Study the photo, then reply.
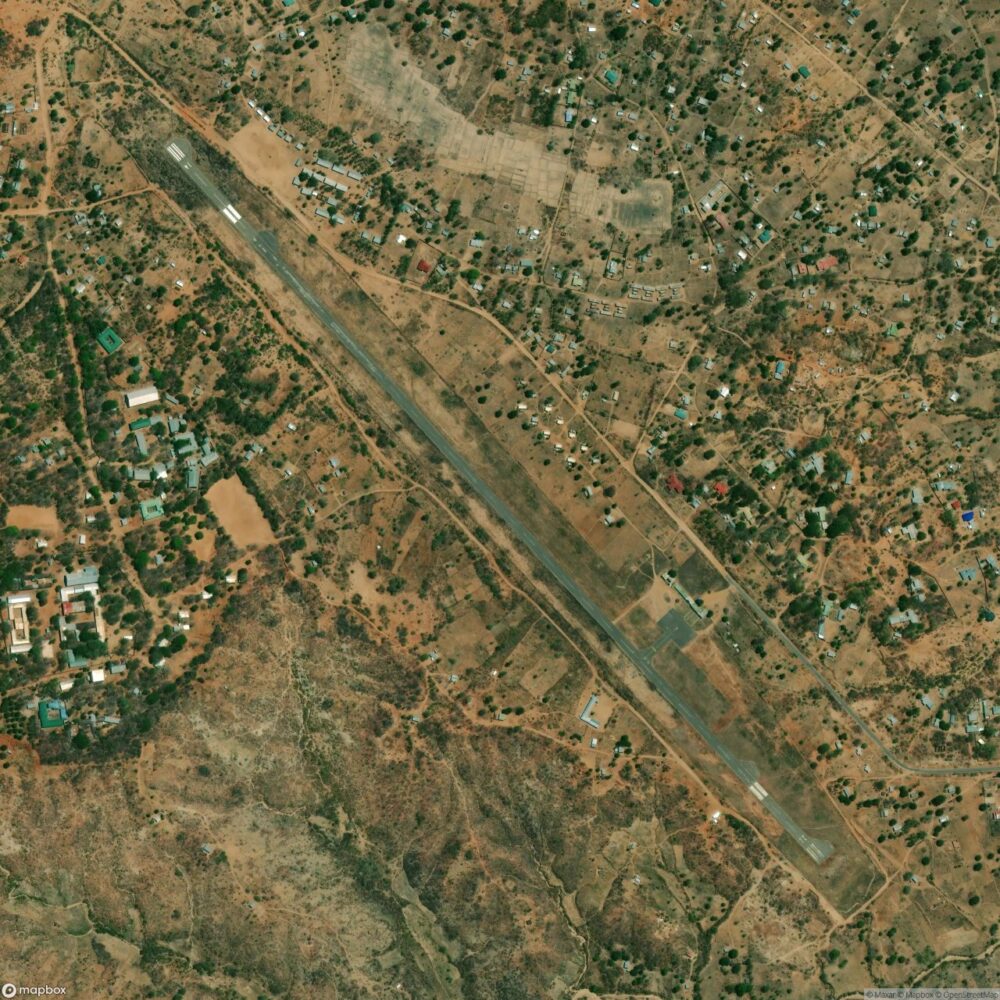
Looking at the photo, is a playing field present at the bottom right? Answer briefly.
No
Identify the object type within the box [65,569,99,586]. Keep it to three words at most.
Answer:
building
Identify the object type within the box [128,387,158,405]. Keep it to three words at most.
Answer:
building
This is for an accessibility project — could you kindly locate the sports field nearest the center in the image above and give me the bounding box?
[207,475,275,548]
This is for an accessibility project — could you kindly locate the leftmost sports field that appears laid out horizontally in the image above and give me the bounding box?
[7,505,60,529]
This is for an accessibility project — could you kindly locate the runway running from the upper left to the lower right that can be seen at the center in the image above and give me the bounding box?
[164,140,826,864]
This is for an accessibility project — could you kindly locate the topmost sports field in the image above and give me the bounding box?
[229,121,302,196]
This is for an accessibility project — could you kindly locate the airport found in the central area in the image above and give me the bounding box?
[164,137,831,864]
